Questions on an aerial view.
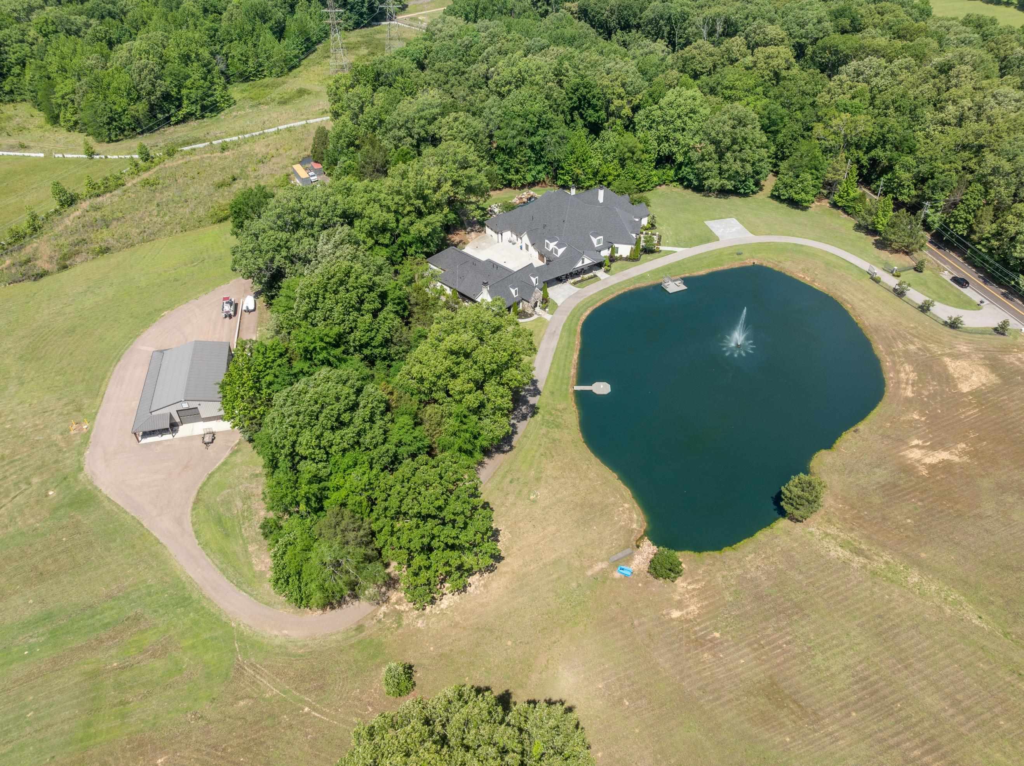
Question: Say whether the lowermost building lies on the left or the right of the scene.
left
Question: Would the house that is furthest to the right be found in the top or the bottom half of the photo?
top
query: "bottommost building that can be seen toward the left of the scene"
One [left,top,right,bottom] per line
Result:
[131,337,233,443]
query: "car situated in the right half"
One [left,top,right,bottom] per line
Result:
[949,276,972,288]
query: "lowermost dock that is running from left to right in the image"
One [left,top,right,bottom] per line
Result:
[573,382,611,396]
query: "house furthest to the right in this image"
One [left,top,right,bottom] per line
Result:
[428,185,649,314]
